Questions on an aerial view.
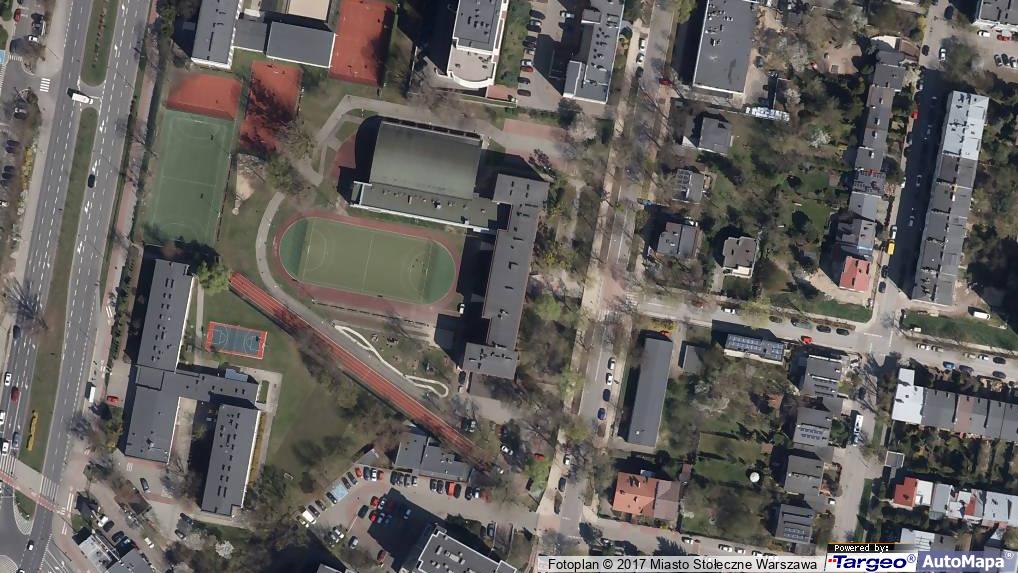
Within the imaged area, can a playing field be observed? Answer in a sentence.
Yes, the picture does show a playing field.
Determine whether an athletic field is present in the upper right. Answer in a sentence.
No, the scene shows no athletic field in the upper right.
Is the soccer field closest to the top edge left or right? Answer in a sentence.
The soccer field closest to the top edge sits on the left side.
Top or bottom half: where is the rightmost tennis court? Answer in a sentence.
The top half of the photo is where the rightmost tennis court is.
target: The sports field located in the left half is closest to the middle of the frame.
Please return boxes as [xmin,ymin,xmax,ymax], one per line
[295,220,437,302]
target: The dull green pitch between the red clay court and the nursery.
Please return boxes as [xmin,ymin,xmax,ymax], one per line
[145,109,235,246]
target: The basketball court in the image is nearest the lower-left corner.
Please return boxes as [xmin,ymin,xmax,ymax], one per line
[207,321,267,358]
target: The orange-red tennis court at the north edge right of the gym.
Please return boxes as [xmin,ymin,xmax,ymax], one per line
[329,0,397,87]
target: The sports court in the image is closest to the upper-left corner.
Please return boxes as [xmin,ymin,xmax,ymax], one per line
[167,73,241,119]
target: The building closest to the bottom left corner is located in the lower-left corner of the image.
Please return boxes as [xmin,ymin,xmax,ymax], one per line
[79,535,117,573]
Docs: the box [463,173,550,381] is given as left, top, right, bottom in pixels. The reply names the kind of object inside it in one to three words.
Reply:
building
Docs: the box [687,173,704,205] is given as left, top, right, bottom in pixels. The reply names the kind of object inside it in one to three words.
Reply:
house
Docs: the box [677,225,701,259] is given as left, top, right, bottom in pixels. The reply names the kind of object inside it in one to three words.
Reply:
house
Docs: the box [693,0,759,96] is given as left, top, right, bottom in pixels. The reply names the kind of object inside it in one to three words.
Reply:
building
